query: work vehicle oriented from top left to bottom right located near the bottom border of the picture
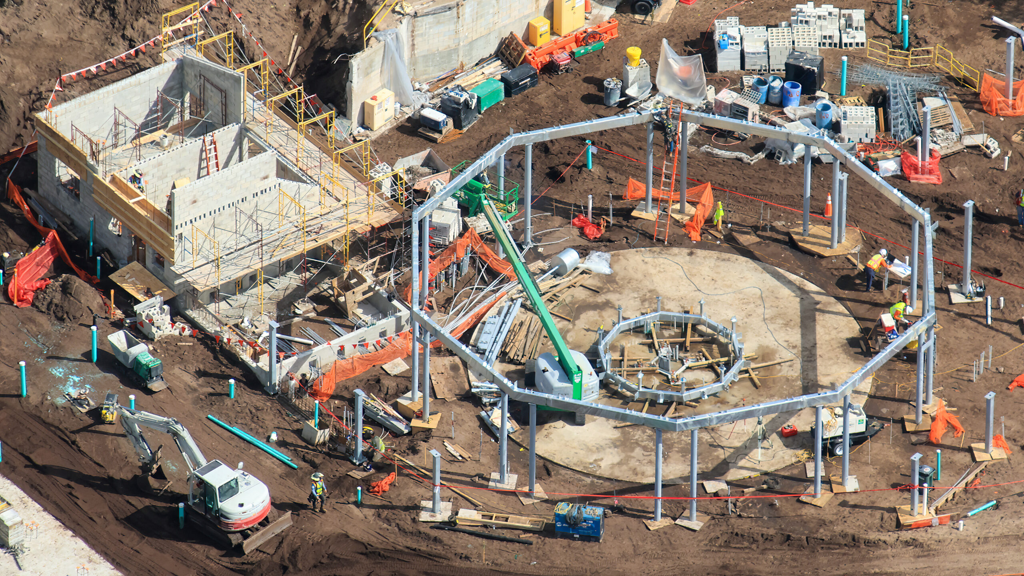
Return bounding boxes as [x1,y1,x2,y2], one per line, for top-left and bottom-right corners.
[118,386,296,559]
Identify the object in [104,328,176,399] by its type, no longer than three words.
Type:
truck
